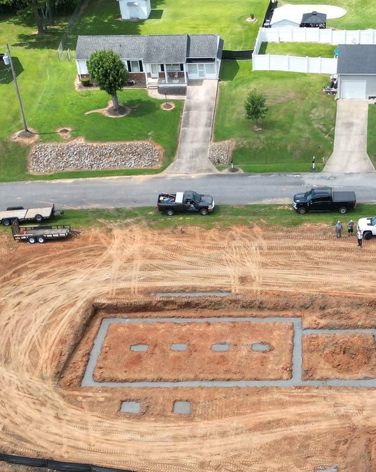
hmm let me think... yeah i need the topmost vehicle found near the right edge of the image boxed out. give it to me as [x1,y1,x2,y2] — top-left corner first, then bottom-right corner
[289,185,361,214]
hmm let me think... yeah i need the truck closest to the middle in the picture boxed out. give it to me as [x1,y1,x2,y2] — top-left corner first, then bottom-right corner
[153,189,218,216]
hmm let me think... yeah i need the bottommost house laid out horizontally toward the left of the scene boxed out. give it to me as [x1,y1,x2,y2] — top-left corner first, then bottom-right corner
[71,28,227,88]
